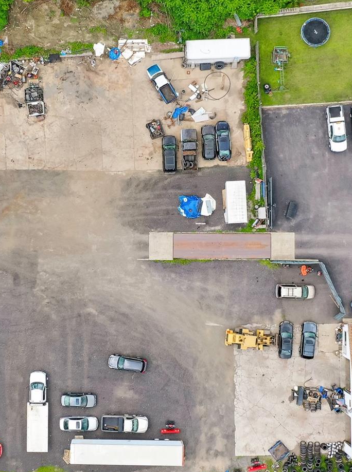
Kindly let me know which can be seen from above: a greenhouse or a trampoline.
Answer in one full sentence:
I can see a trampoline in this picture.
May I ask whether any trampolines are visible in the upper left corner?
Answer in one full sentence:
No, no trampoline is visible in the upper left corner.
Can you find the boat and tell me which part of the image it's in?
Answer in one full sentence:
Look in the center portion of the view to spot the boat.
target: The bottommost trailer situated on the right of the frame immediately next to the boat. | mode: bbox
[221,181,246,223]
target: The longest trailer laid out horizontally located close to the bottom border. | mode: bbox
[70,435,184,466]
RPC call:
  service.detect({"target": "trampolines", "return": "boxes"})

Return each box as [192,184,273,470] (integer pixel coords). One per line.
[301,15,331,46]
